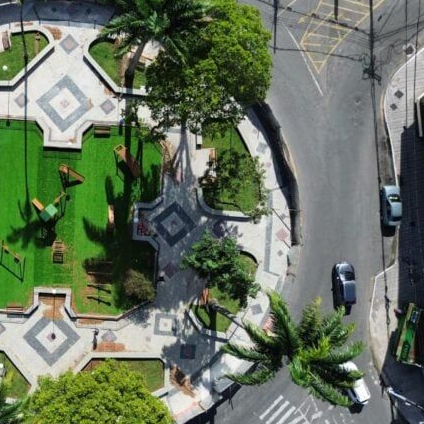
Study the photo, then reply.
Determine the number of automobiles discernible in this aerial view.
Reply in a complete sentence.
The count of automobiles comes to 3.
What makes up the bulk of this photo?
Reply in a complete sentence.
Most of the picture is covered by paved ground.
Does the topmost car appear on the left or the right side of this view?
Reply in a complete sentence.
The topmost car is on the right side of the image.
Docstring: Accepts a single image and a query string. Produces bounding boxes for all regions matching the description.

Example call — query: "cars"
[377,185,403,227]
[337,359,370,405]
[334,265,360,309]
